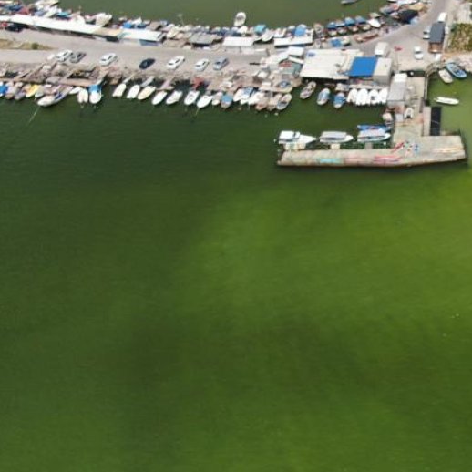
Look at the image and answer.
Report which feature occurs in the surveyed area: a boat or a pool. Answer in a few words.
boat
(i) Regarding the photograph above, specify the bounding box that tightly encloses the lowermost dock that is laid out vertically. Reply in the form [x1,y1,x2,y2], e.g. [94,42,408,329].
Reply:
[429,103,442,139]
